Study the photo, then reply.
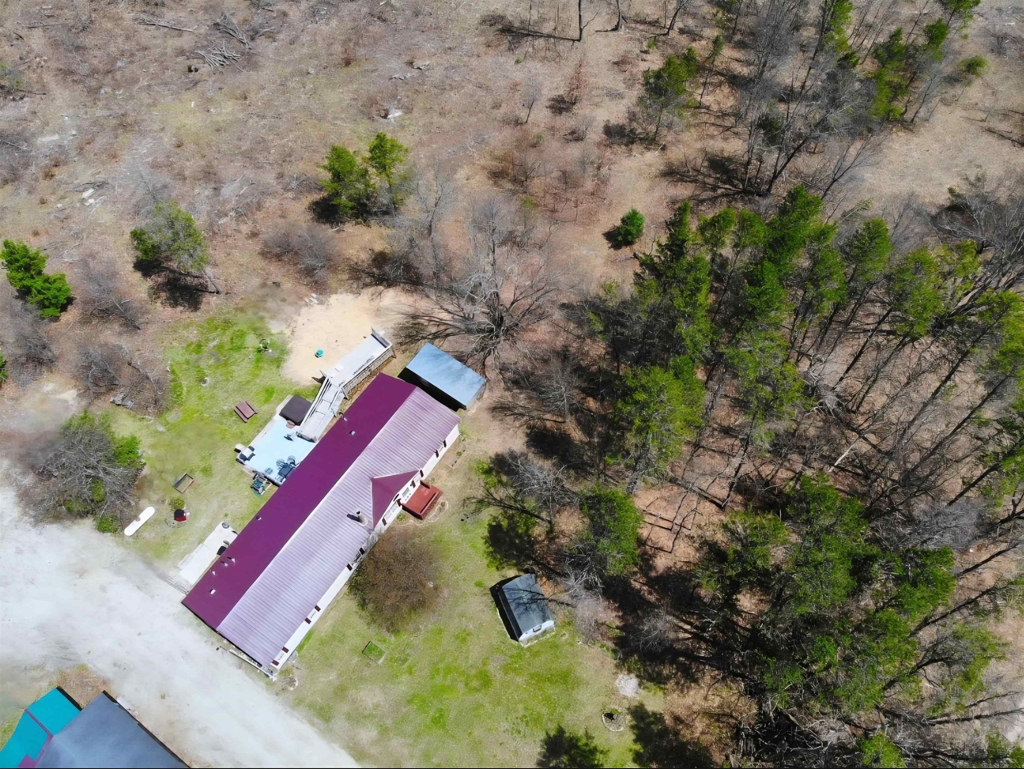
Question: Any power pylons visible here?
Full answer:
No, the frame has no power pylon in it.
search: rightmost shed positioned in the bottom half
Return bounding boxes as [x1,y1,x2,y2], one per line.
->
[499,575,559,653]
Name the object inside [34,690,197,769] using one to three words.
barn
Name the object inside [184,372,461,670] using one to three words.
house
